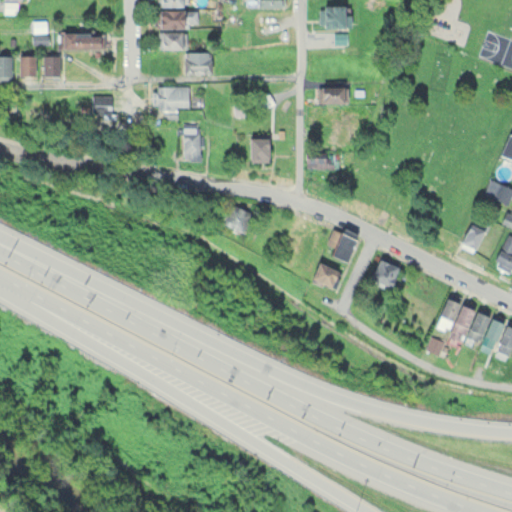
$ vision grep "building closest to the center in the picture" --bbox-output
[224,210,252,236]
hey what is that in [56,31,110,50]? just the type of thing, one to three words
house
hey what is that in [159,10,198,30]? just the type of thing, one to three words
house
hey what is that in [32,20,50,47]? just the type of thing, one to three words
building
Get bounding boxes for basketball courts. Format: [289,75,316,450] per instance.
[477,30,512,72]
